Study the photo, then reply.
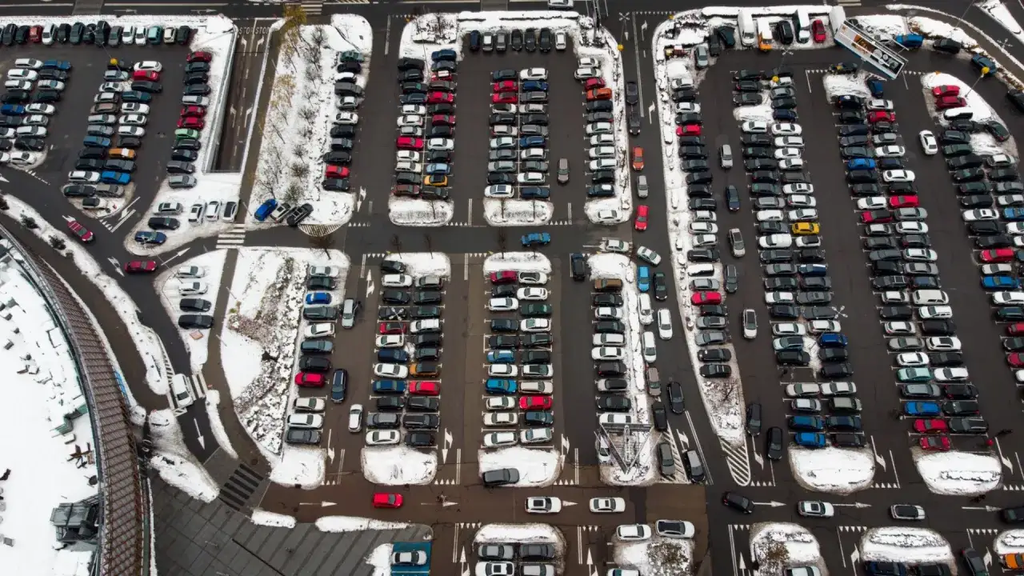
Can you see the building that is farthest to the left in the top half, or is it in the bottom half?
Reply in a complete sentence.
You can find the building that is farthest to the left in the bottom half.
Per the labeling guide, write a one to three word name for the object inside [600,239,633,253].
car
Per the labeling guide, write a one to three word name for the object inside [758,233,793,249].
vehicle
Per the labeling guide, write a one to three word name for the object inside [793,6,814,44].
truck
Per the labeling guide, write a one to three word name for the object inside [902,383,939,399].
car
